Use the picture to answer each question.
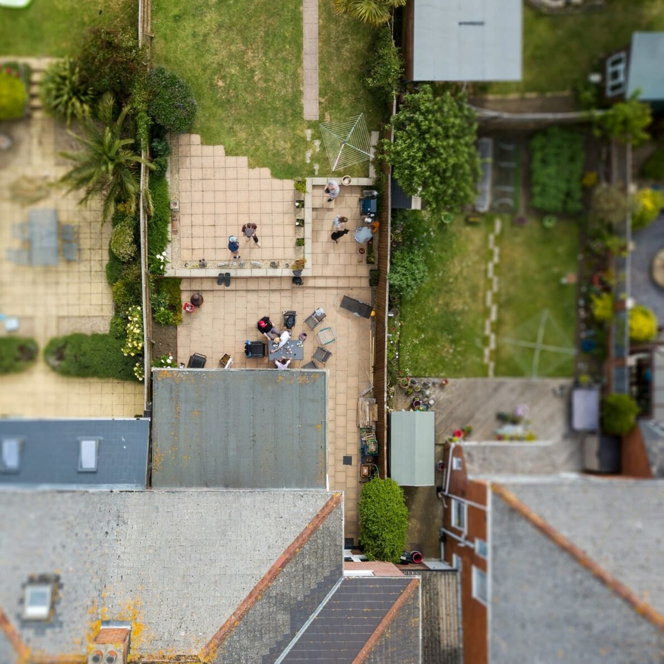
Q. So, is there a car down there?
No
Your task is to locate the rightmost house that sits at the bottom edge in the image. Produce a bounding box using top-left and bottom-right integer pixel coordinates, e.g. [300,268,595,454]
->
[444,436,664,664]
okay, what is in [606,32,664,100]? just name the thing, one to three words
shed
